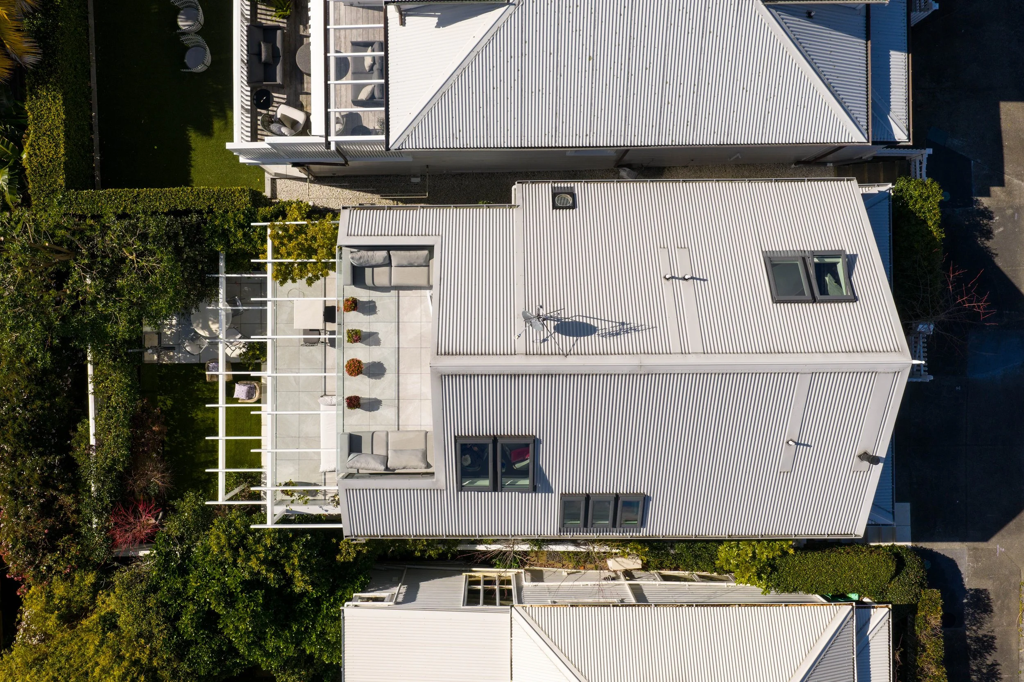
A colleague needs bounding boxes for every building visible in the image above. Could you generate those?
[341,562,893,682]
[334,177,928,543]
[360,0,912,179]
